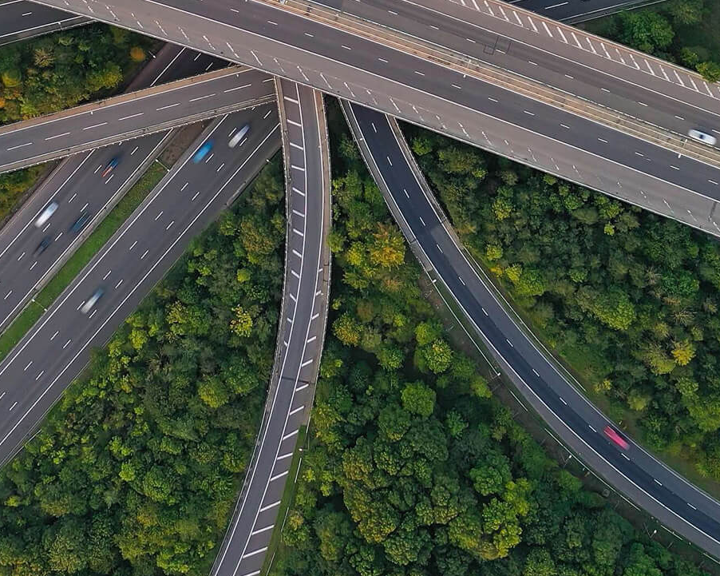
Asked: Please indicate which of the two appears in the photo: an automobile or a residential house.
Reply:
automobile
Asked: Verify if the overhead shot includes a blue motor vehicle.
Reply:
Yes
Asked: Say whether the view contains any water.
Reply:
No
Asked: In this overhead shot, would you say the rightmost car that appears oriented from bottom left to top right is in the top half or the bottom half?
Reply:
top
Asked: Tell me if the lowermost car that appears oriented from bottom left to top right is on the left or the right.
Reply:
left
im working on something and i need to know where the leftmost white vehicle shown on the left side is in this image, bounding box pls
[33,203,58,228]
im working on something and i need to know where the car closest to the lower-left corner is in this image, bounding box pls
[82,289,103,311]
